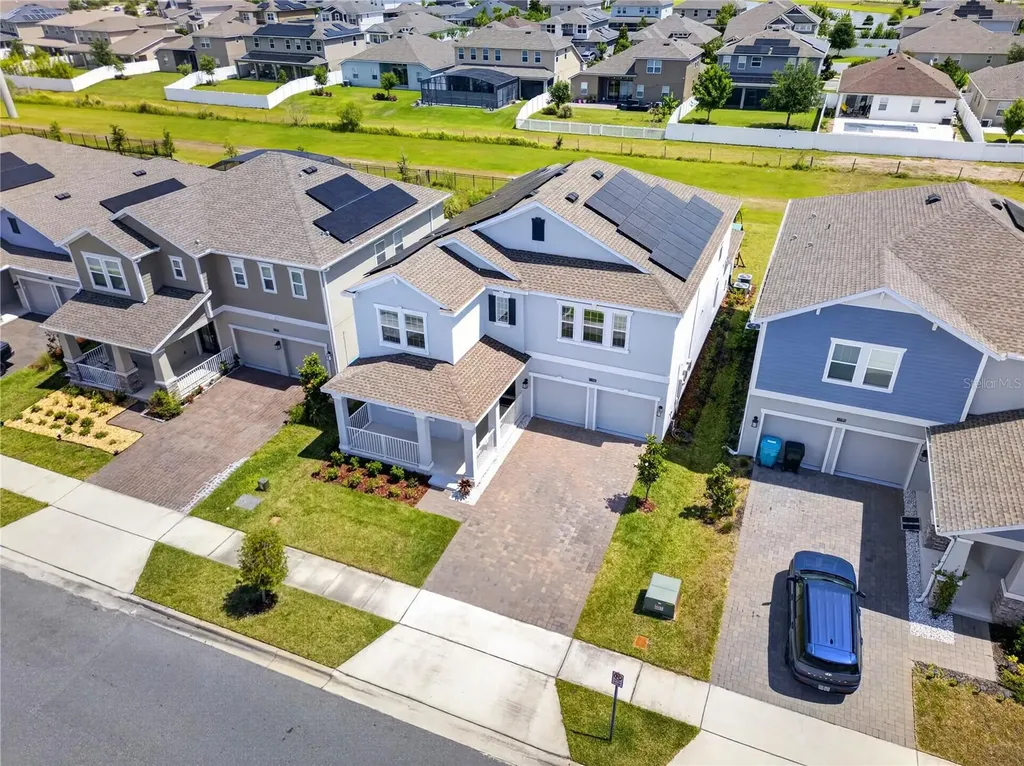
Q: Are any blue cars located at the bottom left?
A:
No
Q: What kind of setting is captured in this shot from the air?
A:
residential area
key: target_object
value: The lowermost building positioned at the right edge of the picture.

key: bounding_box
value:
[718,181,1024,630]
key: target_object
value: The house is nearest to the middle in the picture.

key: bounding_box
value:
[317,156,743,494]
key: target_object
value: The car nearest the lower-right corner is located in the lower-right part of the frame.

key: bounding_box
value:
[785,555,866,699]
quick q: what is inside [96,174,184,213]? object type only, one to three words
solar panel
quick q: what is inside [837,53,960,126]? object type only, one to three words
house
